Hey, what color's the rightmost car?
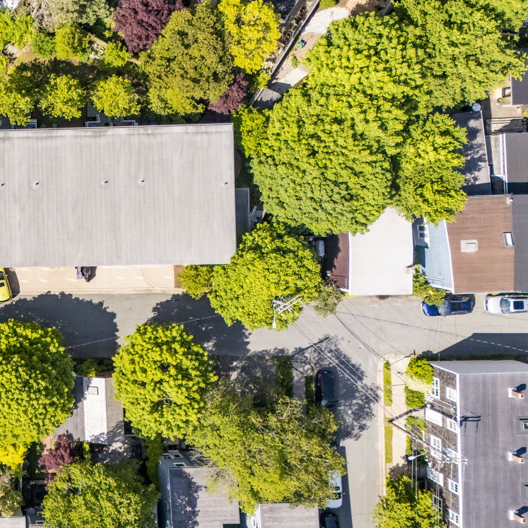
white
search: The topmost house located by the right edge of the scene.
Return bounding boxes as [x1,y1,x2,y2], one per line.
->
[484,73,528,108]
